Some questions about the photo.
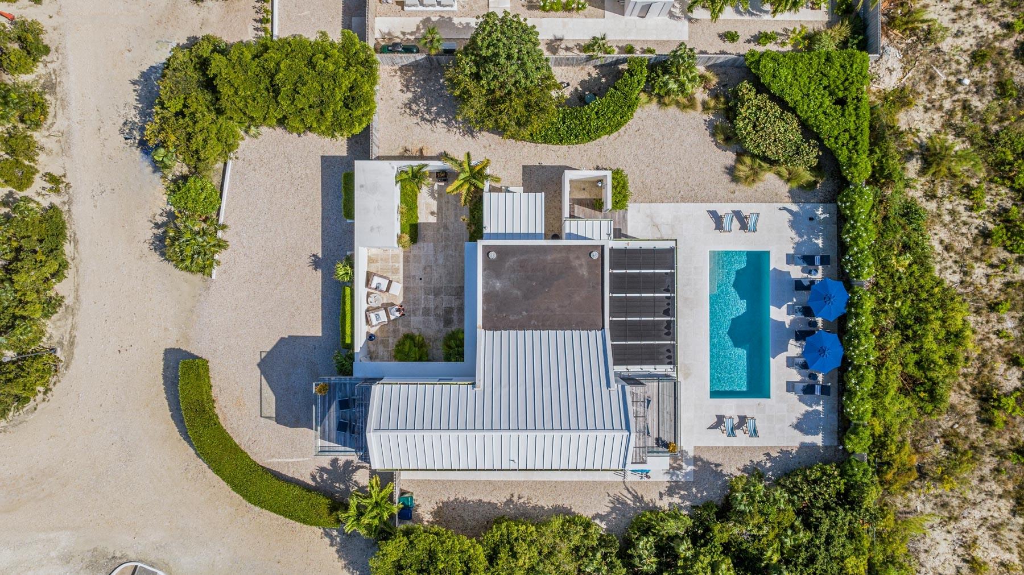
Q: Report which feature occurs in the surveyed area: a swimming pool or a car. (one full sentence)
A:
The image shows a swimming pool.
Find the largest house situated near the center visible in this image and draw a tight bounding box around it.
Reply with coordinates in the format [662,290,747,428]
[315,161,682,472]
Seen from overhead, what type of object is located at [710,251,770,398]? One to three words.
swimming pool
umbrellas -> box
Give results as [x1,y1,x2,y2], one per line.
[805,277,848,321]
[800,330,844,374]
